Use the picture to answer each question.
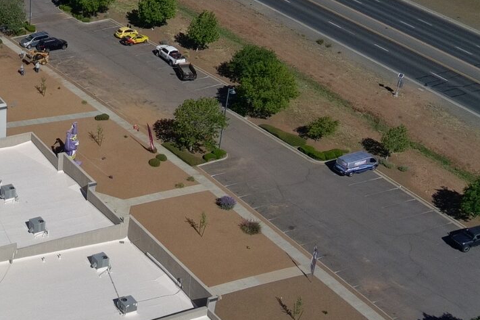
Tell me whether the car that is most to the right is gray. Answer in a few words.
No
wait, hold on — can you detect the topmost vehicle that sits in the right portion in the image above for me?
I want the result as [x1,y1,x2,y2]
[333,152,379,177]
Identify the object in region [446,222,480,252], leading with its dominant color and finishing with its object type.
black car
